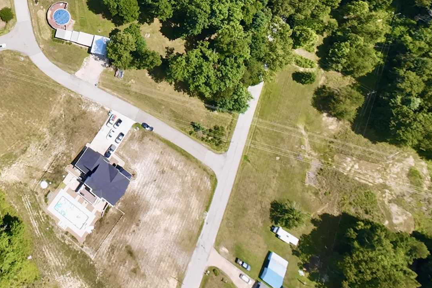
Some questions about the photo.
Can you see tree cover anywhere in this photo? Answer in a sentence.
Yes, there's tree cover in this view.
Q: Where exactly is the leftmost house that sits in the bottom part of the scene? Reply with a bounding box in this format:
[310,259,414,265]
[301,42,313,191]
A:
[76,148,133,205]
